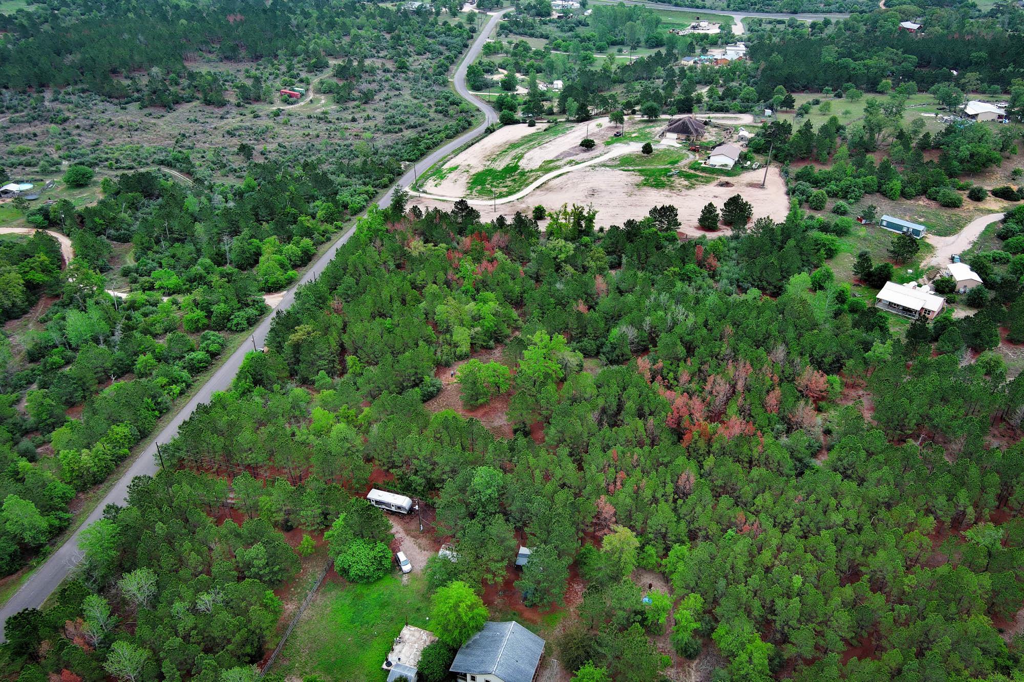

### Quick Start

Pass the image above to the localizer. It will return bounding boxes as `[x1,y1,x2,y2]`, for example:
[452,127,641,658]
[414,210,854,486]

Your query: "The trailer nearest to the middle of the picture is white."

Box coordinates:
[367,489,417,517]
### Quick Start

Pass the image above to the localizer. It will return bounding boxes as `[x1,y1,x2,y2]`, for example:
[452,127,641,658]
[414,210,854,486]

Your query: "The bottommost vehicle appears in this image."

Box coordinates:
[394,552,412,576]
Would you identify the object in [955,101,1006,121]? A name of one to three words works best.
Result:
house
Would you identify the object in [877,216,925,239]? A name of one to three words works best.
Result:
house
